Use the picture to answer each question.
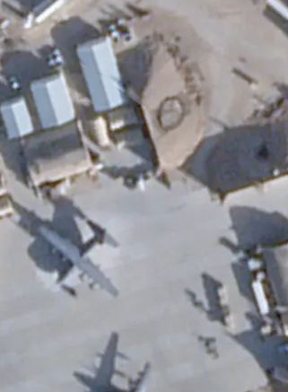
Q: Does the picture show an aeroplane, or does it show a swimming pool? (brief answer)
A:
aeroplane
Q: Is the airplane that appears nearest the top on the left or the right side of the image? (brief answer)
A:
left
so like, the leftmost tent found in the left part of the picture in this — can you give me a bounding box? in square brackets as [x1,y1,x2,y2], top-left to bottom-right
[93,115,113,147]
